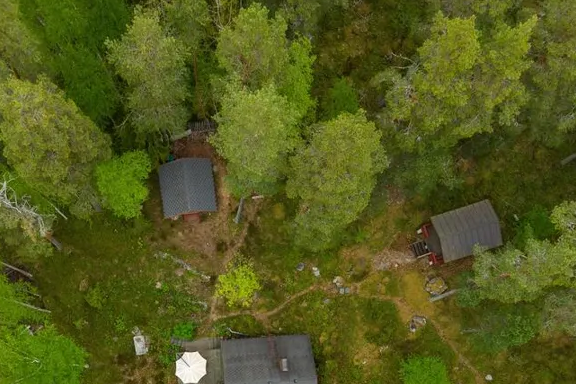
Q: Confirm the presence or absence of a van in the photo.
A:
No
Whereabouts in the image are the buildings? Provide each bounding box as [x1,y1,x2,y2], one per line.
[406,199,503,266]
[160,158,217,225]
[221,333,318,384]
